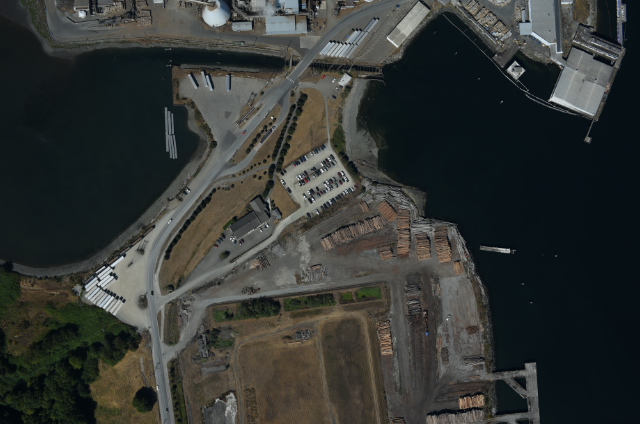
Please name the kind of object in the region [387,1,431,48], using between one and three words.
building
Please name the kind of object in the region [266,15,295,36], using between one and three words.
shed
